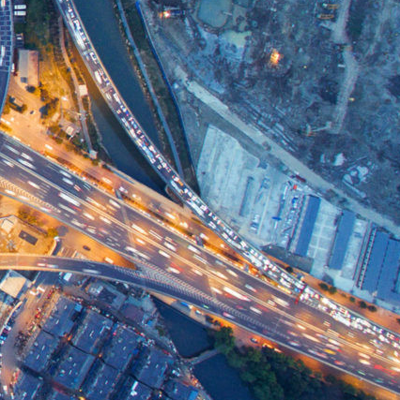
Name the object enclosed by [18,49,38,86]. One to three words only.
shed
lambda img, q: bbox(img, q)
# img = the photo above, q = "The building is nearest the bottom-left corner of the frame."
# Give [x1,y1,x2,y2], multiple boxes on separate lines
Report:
[11,366,42,400]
